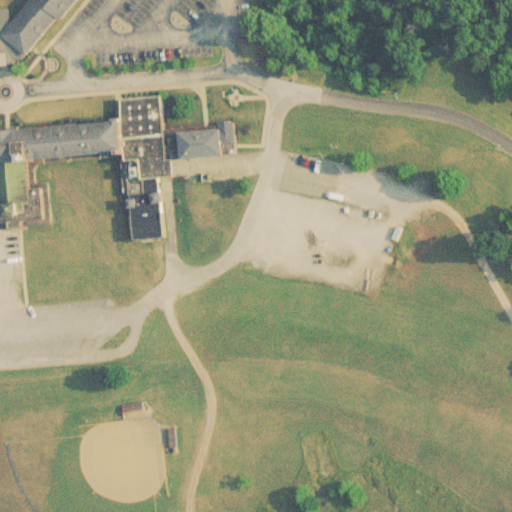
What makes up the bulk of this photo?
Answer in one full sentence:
Most of the picture is covered by grass.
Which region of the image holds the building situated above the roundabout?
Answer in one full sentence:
The building situated above the roundabout is located in the top left region of the scene.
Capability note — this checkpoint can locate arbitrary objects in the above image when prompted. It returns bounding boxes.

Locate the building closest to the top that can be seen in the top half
[0,0,76,55]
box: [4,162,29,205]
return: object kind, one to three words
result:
building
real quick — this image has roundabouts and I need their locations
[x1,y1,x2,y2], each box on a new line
[0,76,24,113]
